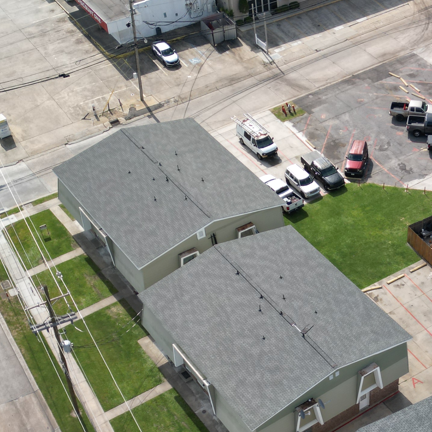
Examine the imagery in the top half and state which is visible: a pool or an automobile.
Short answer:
automobile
